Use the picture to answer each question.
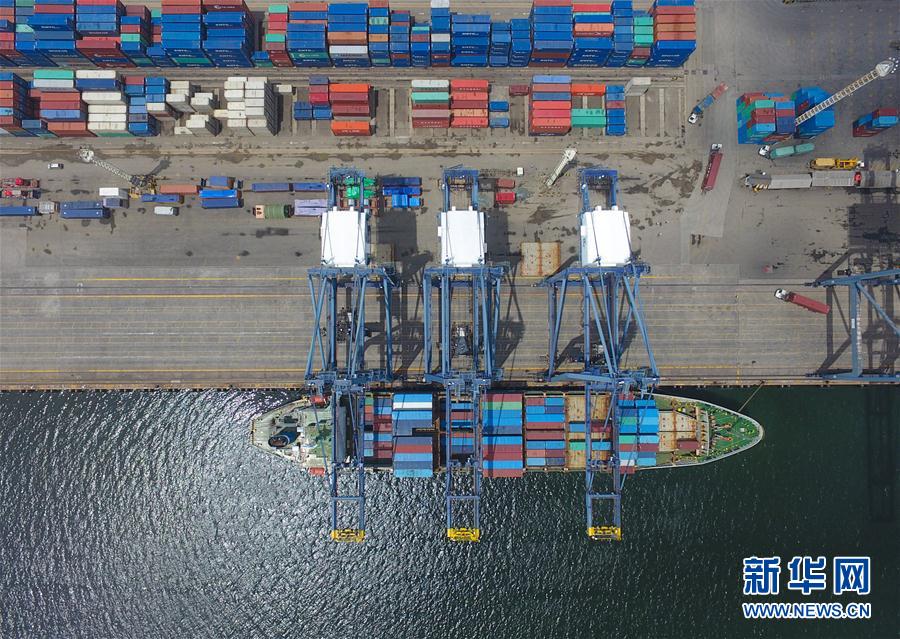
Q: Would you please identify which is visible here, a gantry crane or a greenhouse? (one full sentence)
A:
There is a gantry crane in the scene.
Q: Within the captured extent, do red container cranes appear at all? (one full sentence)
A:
No, no red container crane can be seen from above.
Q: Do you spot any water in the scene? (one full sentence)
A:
Yes, there's water in this view.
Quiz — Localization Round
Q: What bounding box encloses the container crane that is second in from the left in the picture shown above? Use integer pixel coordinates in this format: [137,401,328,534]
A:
[410,168,510,544]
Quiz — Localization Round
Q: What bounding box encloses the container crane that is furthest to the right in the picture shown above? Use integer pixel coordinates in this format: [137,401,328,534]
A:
[804,266,900,383]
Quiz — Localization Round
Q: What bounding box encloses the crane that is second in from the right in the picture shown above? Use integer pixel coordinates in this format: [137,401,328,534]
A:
[523,166,655,543]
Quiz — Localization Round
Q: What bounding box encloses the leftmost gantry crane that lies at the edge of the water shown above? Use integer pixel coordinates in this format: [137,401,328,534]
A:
[304,169,417,545]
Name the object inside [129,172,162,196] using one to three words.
work vehicle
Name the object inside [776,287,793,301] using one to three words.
vehicle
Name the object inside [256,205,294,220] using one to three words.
vehicle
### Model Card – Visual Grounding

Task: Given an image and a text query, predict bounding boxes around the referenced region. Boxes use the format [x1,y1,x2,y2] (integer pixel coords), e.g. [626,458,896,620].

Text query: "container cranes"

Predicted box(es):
[804,266,900,383]
[523,166,655,543]
[304,169,417,545]
[410,168,510,544]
